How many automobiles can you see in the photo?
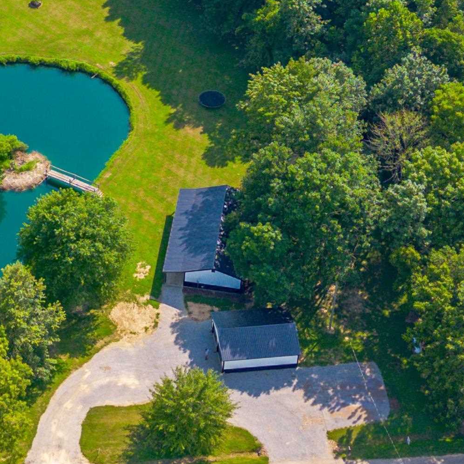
0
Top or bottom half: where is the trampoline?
top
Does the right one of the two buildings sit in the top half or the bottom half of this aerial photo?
bottom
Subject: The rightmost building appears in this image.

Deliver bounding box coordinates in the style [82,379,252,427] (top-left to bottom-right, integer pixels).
[211,308,304,373]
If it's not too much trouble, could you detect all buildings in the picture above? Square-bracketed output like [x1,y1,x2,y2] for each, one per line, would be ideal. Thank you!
[211,308,304,373]
[161,183,253,294]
